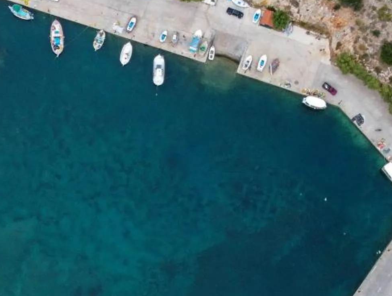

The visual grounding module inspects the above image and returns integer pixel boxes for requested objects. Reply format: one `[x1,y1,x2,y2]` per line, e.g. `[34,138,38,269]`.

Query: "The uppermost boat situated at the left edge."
[7,5,35,20]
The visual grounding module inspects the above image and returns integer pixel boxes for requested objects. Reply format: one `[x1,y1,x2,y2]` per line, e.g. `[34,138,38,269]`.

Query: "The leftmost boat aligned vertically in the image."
[50,19,64,58]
